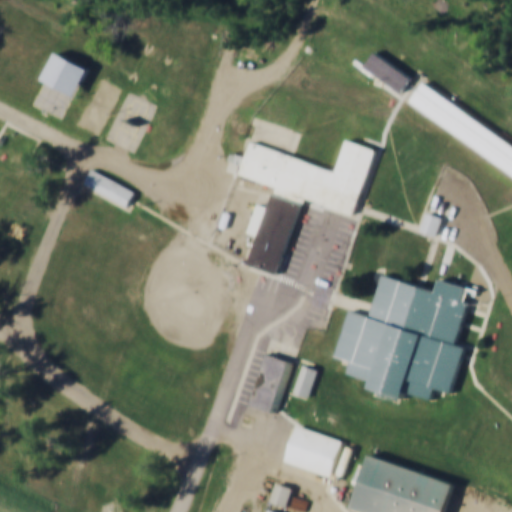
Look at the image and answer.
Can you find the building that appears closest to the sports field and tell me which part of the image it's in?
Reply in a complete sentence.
The building that appears closest to the sports field sits in the center section of the image.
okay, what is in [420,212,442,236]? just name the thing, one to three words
shed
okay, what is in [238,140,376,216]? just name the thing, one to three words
building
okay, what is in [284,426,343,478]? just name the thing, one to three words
shed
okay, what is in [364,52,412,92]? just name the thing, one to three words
barn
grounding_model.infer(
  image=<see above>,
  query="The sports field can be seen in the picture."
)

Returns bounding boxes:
[144,232,240,350]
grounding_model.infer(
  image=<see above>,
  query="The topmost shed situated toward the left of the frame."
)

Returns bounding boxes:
[38,53,84,96]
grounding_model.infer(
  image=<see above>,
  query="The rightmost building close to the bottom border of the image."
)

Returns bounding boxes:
[348,457,454,512]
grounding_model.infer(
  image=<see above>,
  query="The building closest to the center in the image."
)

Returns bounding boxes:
[247,195,302,273]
